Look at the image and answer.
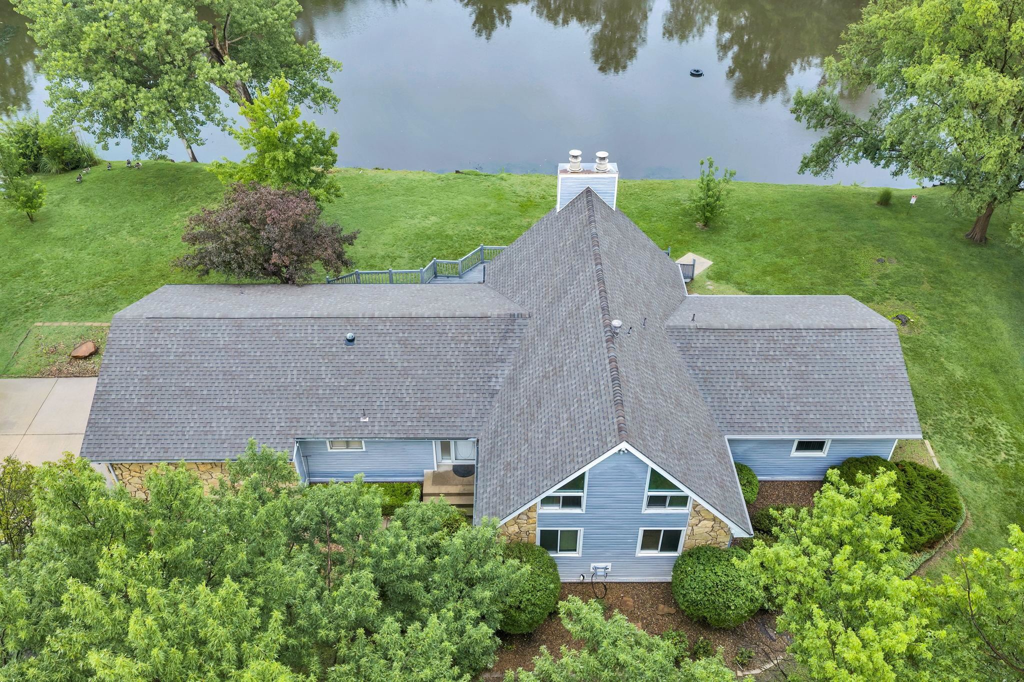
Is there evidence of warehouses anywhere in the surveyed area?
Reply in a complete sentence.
No, this view has no warehouse in it.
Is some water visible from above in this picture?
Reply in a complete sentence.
Yes, some water is visible.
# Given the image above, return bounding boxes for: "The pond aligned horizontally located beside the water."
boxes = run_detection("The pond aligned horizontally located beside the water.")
[0,0,1024,191]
